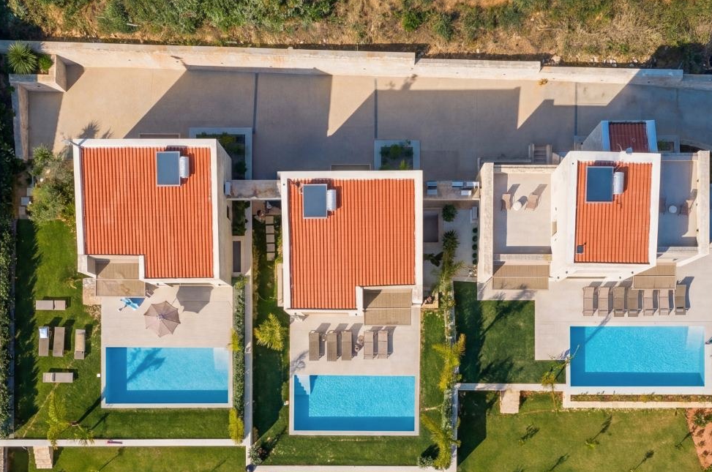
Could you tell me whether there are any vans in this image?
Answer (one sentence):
No, no van is visible in the view.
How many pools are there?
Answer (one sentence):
The count of pools comes to 3.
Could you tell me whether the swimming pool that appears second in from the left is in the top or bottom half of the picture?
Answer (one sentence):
You can find the swimming pool that appears second in from the left in the bottom half.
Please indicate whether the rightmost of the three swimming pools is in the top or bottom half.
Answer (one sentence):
The rightmost of the three swimming pools is in the bottom half of the image.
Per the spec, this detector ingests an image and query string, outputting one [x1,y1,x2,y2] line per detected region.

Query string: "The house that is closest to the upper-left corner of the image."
[74,138,232,289]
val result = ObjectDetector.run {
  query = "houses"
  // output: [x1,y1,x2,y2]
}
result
[278,170,422,318]
[474,120,712,287]
[74,138,232,289]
